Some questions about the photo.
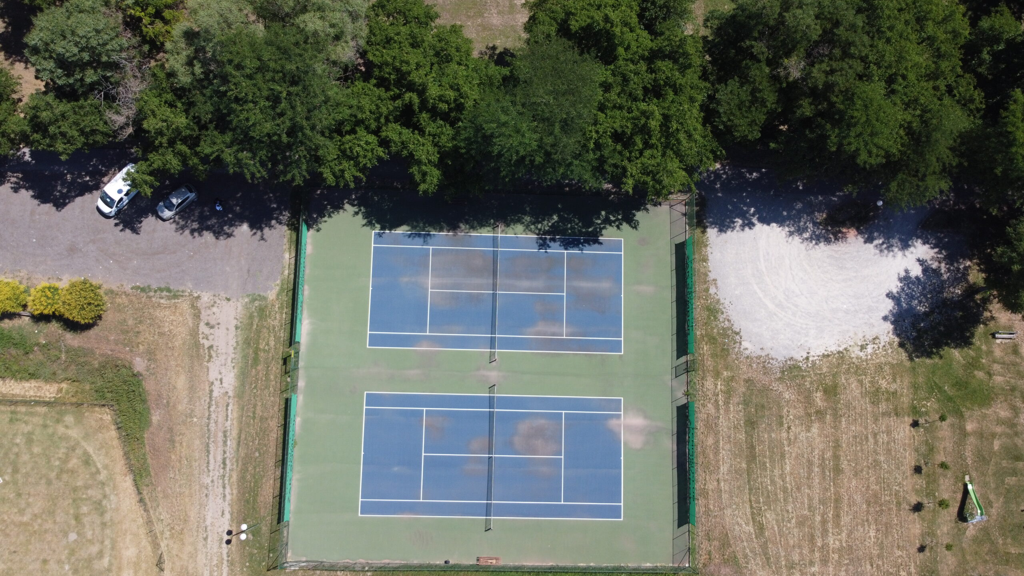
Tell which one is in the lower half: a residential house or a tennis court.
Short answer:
tennis court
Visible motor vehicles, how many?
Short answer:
2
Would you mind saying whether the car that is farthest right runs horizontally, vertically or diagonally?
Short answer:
diagonally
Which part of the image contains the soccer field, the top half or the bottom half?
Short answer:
bottom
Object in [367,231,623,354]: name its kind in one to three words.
tennis court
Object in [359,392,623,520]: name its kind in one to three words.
tennis court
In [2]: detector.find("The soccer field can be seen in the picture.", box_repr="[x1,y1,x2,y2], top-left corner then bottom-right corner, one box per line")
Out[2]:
[0,403,162,576]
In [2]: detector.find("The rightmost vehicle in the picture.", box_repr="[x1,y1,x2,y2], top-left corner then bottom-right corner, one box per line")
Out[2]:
[158,184,201,220]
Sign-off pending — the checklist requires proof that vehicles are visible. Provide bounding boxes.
[98,172,140,217]
[158,184,201,220]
